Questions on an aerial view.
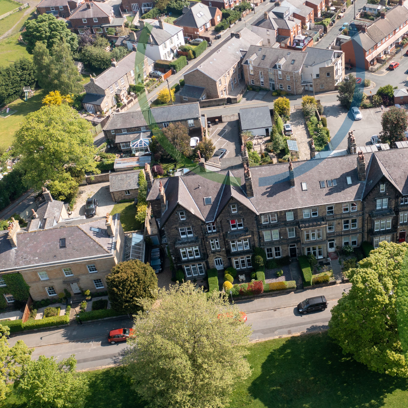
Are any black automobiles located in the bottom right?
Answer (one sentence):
Yes, I can see a black automobile in the bottom right.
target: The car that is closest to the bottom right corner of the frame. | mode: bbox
[297,296,328,314]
